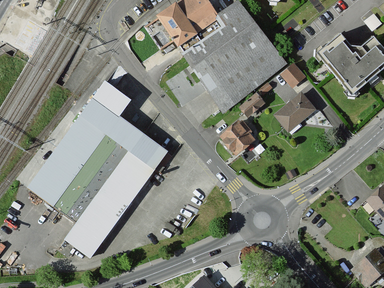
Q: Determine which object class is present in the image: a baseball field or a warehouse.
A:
warehouse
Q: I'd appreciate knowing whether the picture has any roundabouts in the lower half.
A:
Yes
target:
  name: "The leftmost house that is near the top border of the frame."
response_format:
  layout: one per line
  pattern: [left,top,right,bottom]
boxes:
[157,2,198,47]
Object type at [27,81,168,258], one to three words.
warehouse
